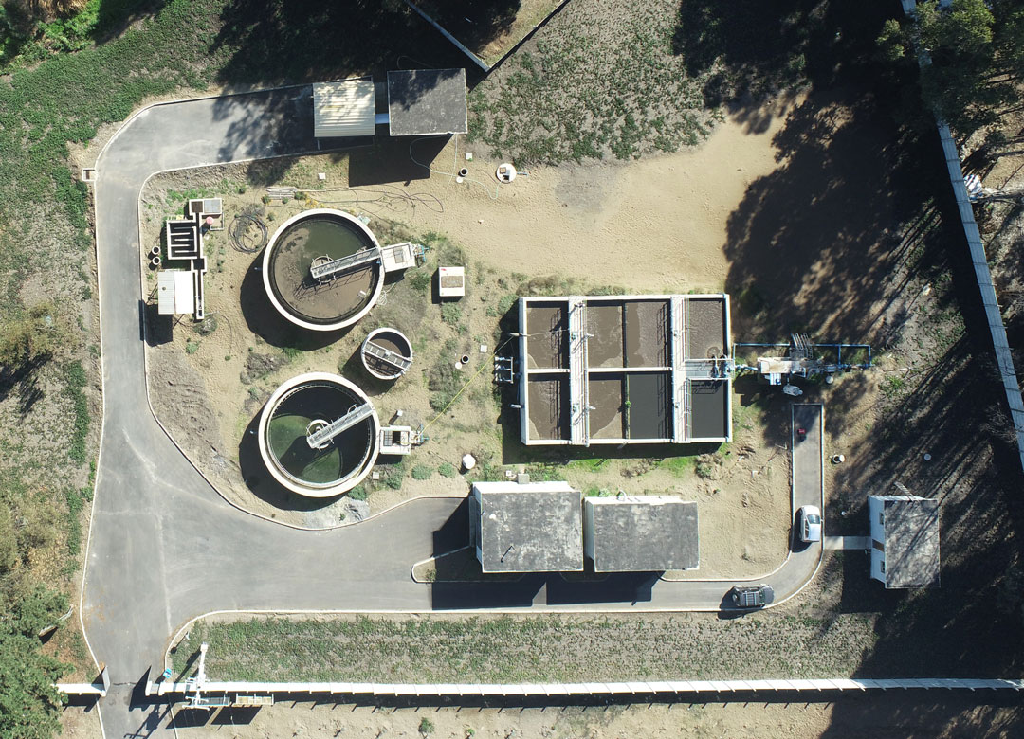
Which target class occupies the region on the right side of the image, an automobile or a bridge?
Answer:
automobile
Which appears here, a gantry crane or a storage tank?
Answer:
storage tank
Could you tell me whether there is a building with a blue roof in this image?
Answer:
No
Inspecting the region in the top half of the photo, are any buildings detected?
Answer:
Yes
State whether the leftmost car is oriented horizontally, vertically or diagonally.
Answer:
horizontally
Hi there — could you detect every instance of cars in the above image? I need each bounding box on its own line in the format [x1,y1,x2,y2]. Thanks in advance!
[797,504,821,543]
[727,584,774,607]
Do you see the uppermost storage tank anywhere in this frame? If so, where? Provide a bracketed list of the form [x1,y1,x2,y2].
[263,209,384,330]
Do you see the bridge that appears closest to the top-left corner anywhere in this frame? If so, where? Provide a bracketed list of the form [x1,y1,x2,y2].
[311,245,382,277]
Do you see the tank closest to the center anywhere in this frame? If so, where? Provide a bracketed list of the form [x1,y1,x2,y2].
[360,327,413,379]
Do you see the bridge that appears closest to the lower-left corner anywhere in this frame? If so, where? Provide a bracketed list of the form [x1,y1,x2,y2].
[308,402,375,449]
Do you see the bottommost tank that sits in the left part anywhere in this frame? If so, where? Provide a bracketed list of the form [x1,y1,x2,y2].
[258,372,381,496]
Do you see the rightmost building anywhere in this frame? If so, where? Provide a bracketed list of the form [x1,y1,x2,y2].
[869,495,943,589]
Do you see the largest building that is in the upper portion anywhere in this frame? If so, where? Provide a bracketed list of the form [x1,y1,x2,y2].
[385,67,467,140]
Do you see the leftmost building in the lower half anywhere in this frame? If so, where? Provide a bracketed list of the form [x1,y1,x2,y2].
[474,483,583,575]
